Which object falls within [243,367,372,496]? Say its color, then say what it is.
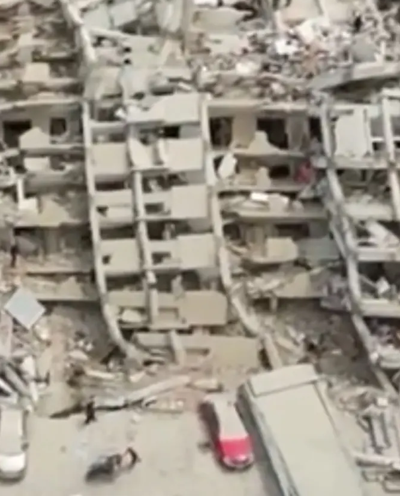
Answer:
white truck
